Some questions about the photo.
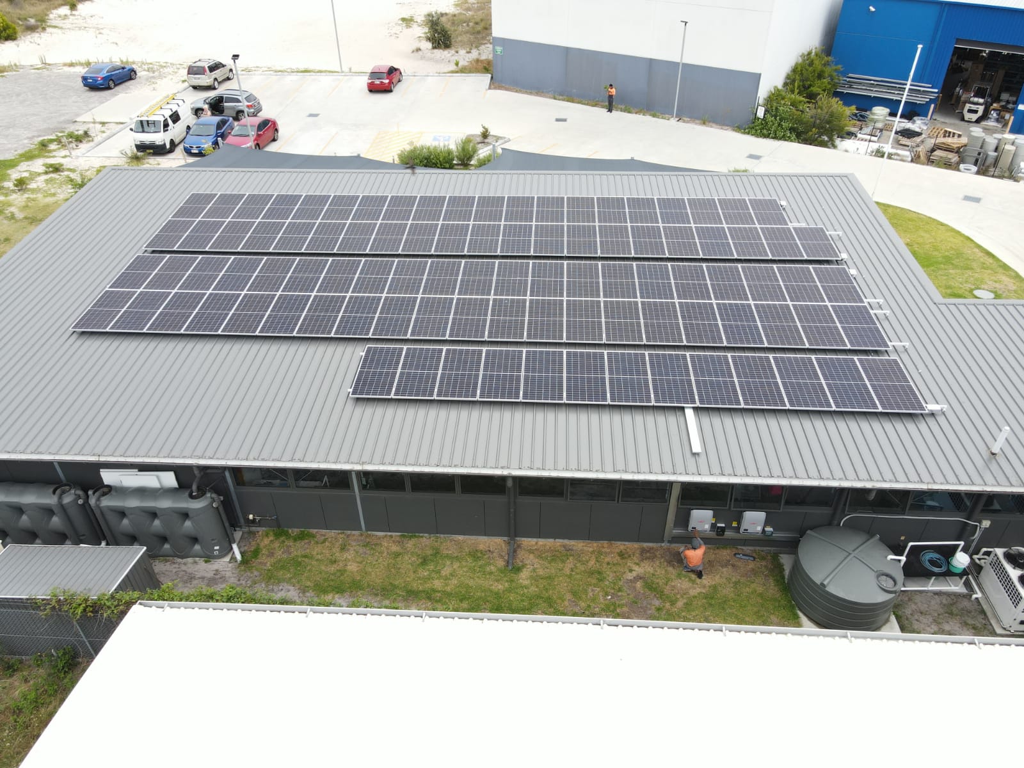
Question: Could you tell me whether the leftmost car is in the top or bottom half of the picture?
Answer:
top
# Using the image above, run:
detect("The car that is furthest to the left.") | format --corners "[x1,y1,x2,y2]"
[76,61,137,89]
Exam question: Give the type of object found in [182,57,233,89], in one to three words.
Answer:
car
